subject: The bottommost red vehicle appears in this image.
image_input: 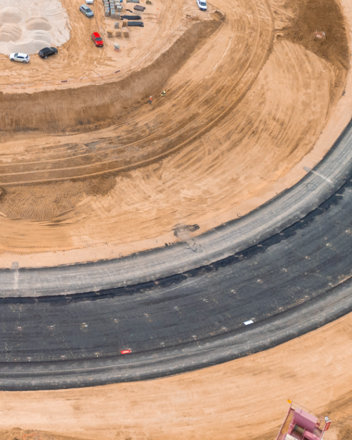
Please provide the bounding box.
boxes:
[89,30,104,45]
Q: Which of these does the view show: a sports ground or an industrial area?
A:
sports ground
